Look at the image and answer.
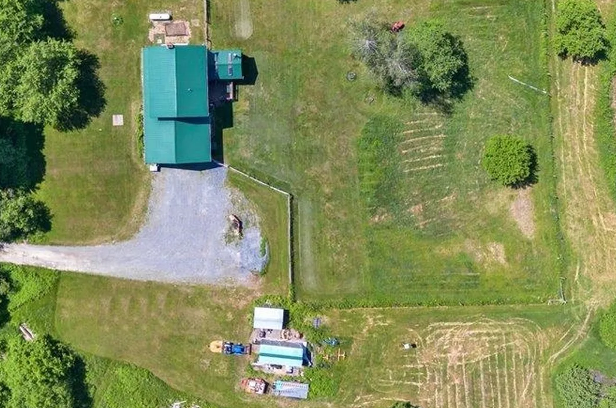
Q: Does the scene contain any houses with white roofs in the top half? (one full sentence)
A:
No, no house with a white roof appears in the top half.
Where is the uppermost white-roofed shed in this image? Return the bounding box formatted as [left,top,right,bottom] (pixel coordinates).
[254,309,284,333]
